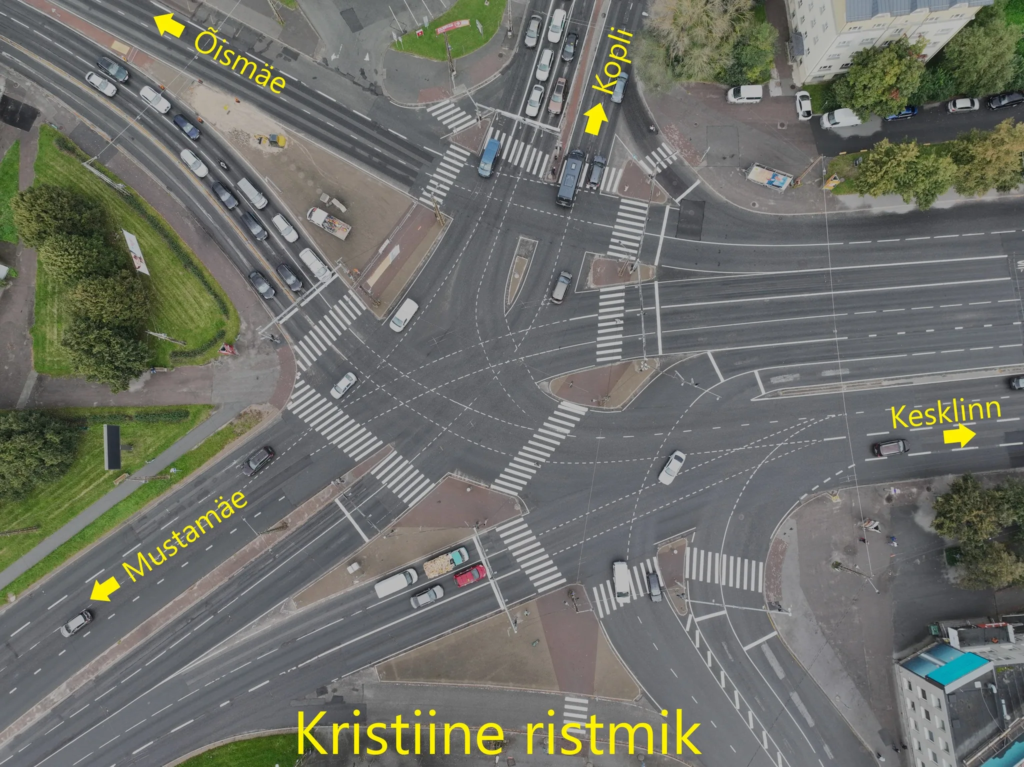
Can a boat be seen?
No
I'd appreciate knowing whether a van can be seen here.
Yes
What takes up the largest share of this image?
paved ground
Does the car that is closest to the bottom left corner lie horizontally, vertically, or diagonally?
diagonally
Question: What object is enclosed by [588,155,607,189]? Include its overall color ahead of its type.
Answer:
gray car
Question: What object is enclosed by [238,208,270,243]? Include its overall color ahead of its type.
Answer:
gray car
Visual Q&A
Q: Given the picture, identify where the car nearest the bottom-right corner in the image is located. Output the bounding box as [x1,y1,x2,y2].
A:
[874,439,909,456]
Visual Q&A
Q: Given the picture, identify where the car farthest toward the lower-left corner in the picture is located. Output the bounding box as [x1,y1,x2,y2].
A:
[59,608,95,639]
